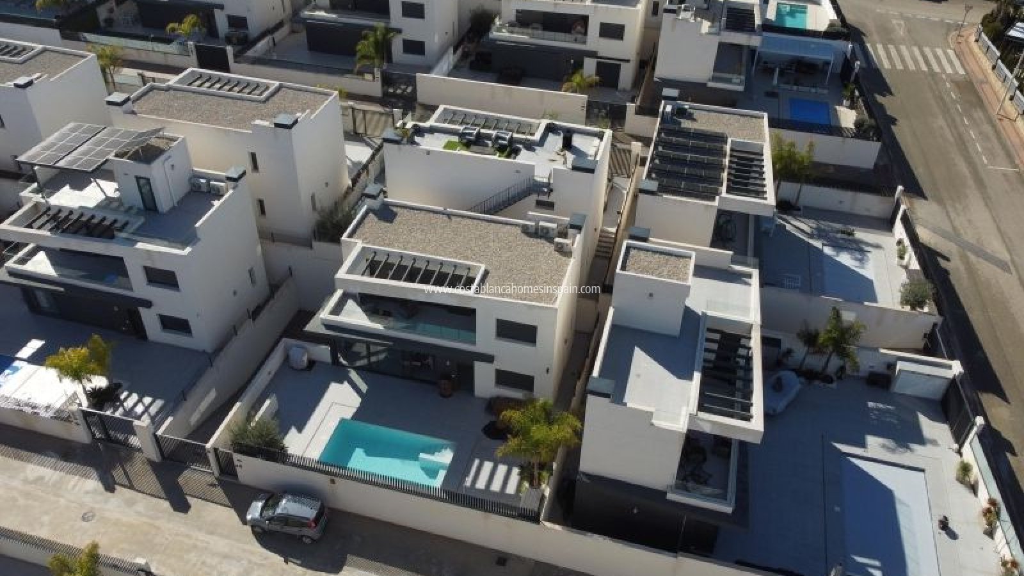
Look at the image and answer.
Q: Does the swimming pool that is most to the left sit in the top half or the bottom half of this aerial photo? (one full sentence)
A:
You can find the swimming pool that is most to the left in the bottom half.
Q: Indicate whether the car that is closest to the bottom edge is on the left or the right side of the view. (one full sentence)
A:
You can find the car that is closest to the bottom edge on the left side of the picture.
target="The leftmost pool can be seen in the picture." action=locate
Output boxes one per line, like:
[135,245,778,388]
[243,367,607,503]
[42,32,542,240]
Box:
[0,357,46,405]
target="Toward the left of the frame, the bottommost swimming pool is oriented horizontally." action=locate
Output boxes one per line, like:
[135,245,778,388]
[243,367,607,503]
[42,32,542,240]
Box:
[311,412,466,492]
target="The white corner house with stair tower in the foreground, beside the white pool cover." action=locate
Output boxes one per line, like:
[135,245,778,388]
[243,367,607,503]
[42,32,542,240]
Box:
[572,236,763,556]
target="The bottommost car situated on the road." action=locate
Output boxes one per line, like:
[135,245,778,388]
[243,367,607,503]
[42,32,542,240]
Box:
[246,488,337,545]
